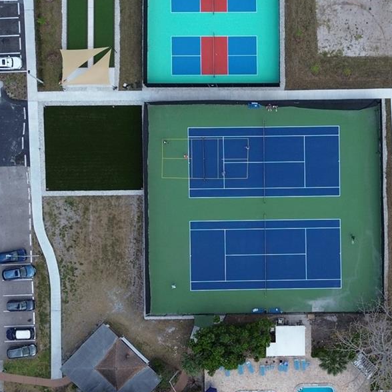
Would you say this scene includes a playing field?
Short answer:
Yes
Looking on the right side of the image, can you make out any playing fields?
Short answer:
No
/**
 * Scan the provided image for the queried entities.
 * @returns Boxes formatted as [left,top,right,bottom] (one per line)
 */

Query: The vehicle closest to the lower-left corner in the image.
[6,344,38,360]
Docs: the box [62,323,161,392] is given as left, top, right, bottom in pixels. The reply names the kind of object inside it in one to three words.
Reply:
building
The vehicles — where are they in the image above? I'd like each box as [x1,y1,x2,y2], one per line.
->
[6,298,35,312]
[3,265,35,280]
[6,344,38,360]
[0,249,28,264]
[7,327,34,341]
[0,55,23,71]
